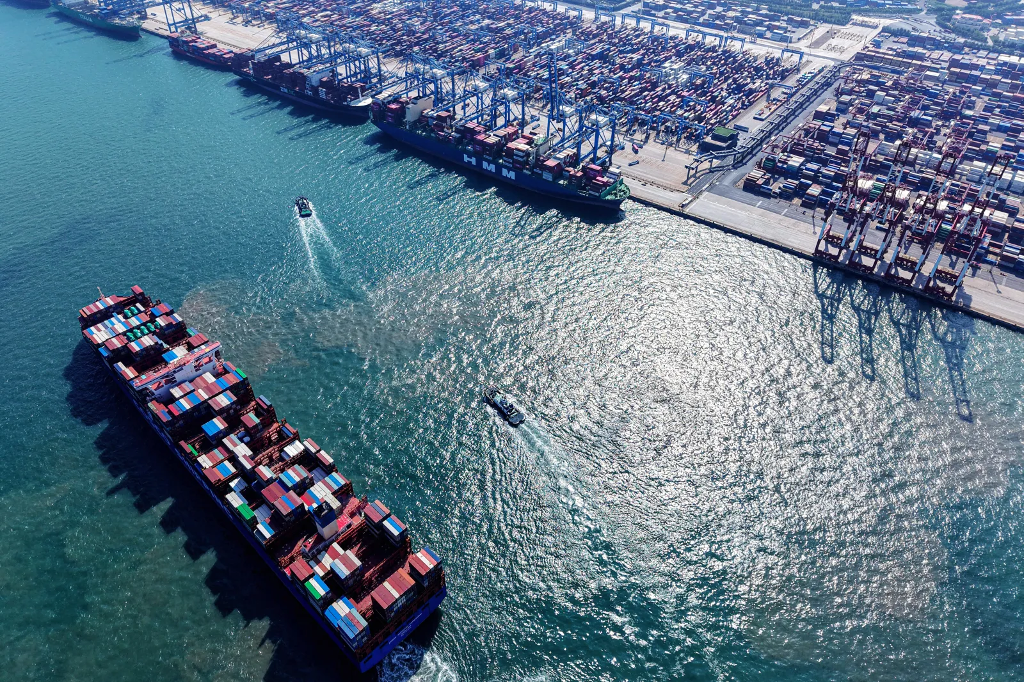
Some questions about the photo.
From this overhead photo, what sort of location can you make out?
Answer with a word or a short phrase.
port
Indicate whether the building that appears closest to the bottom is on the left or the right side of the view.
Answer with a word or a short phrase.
right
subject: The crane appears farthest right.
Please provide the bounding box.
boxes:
[922,174,1002,300]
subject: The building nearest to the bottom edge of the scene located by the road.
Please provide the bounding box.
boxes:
[702,124,737,151]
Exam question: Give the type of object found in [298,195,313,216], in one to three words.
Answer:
boat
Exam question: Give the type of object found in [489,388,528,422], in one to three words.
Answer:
boat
